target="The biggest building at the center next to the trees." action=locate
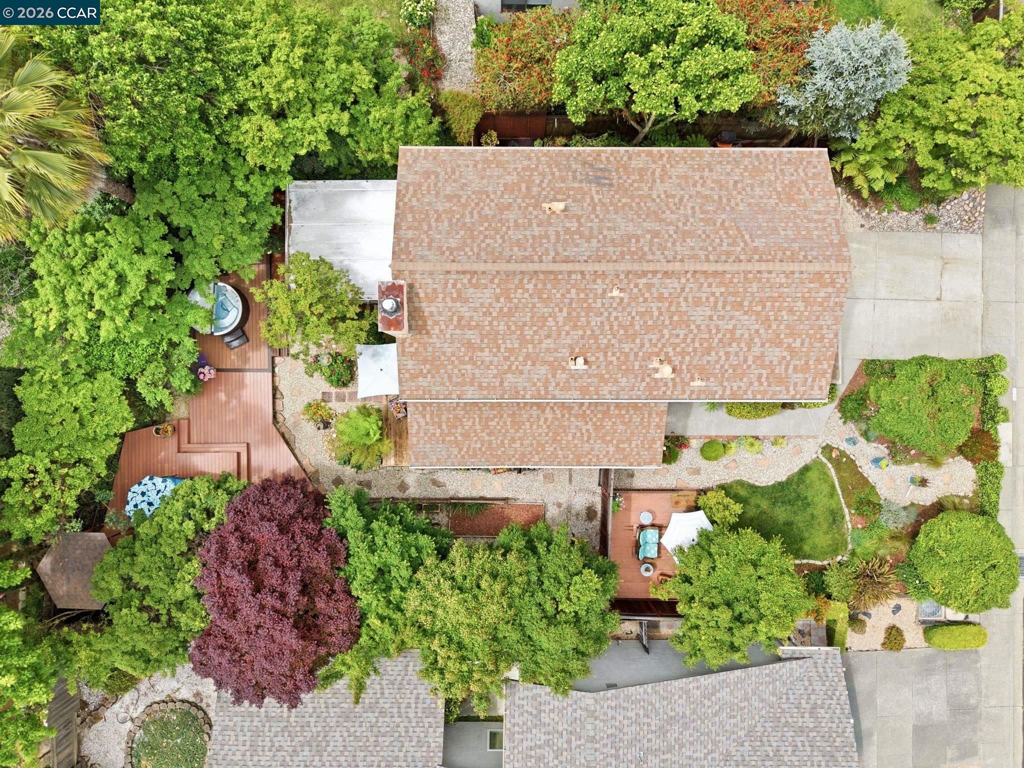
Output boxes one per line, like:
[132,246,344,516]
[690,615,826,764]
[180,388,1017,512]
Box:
[378,146,855,471]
